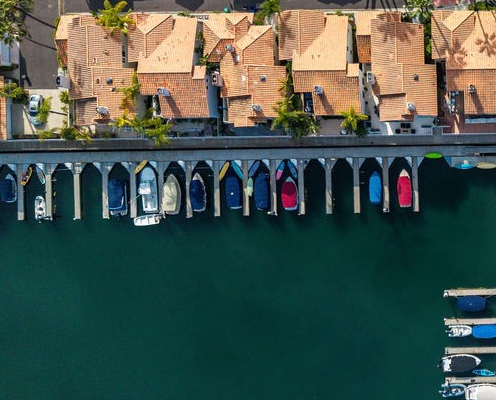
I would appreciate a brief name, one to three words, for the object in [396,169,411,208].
boat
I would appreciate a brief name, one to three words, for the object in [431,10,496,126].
house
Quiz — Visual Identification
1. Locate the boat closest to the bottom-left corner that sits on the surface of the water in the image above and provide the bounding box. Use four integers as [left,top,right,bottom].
[34,198,46,223]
